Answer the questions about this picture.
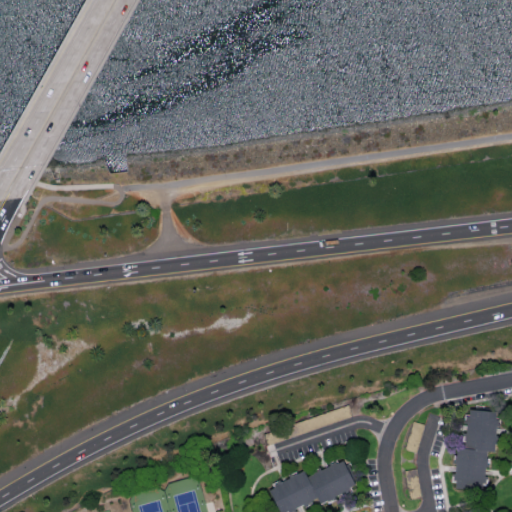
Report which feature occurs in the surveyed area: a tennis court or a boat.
tennis court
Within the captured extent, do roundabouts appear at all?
No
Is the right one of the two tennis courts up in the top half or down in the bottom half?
bottom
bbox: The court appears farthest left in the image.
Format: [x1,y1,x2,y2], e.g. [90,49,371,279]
[131,490,169,512]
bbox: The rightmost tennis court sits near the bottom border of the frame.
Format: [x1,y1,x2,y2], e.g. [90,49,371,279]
[166,479,206,512]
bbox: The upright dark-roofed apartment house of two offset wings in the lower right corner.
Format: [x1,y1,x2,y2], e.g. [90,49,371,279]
[456,409,496,489]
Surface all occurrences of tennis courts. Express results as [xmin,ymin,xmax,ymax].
[131,490,169,512]
[166,479,206,512]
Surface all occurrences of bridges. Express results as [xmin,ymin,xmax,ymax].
[0,0,142,204]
